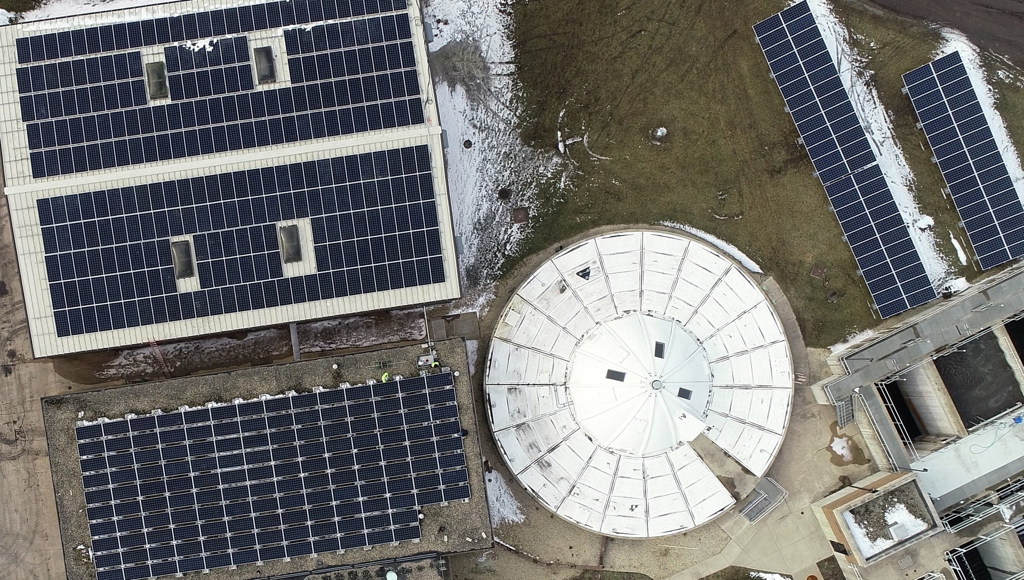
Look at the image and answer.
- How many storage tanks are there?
1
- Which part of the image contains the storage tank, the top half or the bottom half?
bottom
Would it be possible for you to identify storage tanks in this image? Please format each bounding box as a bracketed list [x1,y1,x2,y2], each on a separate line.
[483,229,793,539]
